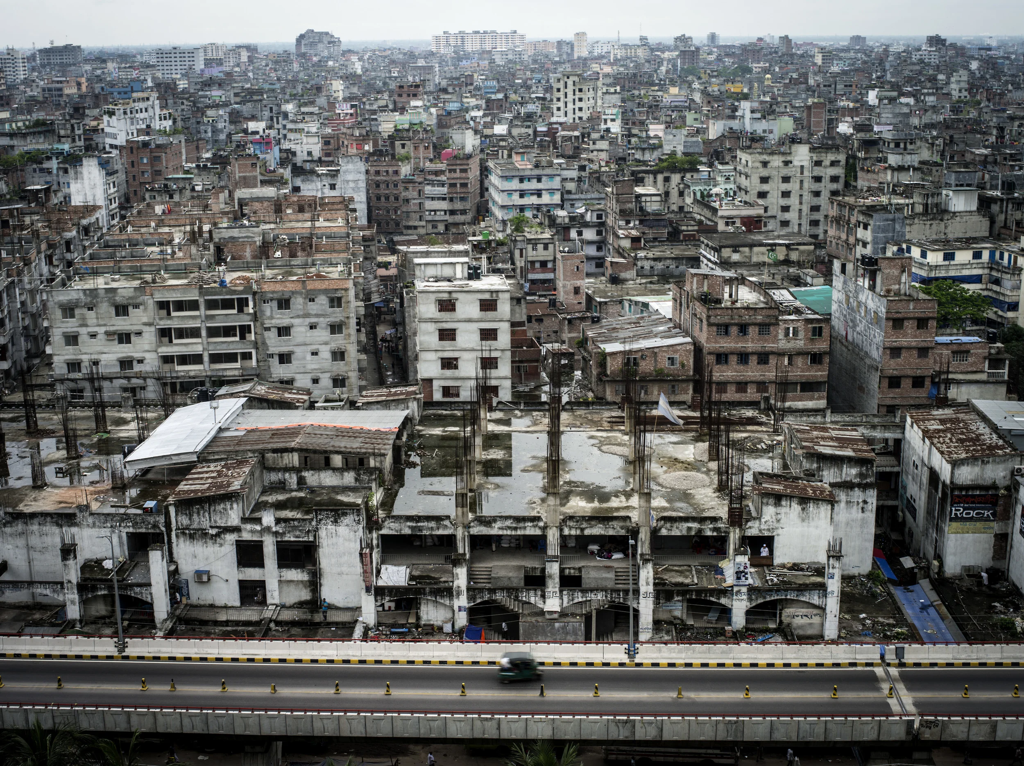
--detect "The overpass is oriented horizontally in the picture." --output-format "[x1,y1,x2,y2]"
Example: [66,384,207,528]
[0,633,1024,766]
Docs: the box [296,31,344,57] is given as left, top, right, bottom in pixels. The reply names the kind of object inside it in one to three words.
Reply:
building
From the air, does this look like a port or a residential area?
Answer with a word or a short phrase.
residential area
